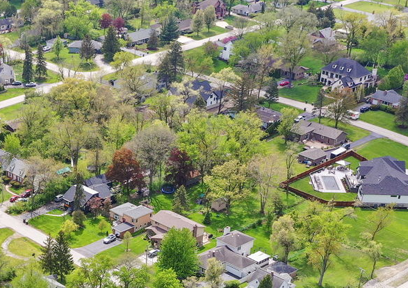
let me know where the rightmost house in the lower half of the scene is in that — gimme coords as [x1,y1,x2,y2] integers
[339,156,408,206]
